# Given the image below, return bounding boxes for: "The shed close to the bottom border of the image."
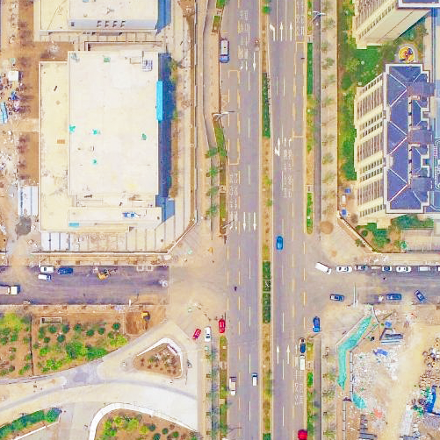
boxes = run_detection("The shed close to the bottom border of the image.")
[397,406,413,438]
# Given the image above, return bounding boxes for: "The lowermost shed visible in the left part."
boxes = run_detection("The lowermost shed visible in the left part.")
[41,233,70,250]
